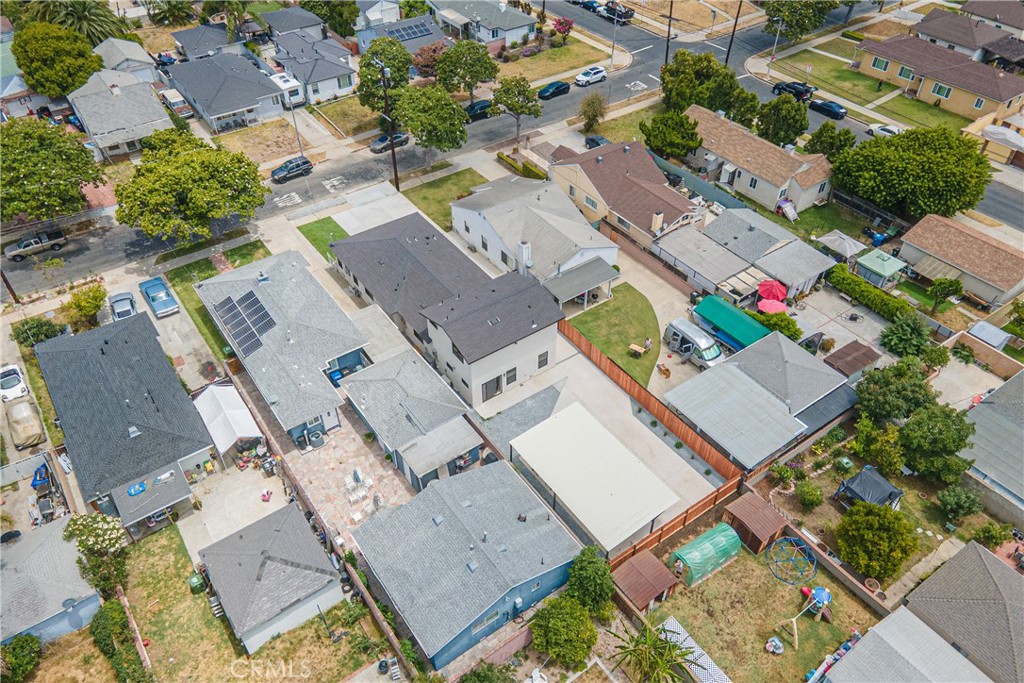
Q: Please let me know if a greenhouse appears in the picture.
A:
Yes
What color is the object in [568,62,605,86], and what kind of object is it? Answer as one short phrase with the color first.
white car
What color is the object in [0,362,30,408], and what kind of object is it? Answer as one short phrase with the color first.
white car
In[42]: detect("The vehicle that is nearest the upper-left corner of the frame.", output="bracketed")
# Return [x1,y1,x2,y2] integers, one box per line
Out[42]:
[161,88,191,118]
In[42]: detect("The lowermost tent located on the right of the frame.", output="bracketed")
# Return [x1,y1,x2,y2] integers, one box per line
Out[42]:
[832,465,903,516]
